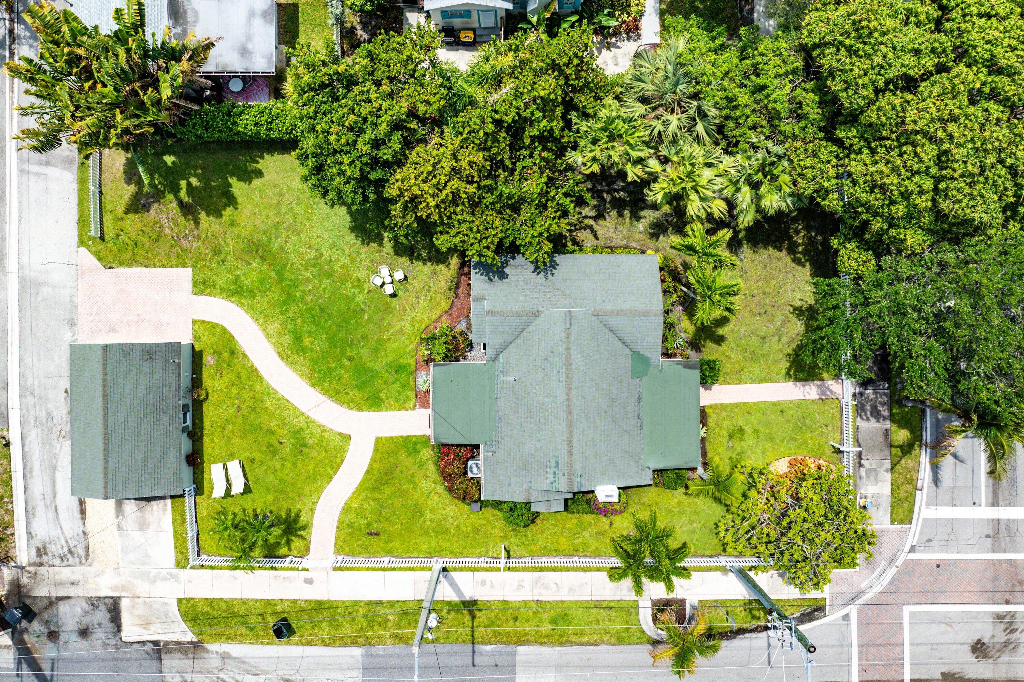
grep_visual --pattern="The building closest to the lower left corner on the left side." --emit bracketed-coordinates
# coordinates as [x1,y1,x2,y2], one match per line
[70,342,191,502]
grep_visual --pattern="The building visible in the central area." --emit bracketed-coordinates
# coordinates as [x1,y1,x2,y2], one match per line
[427,254,701,513]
